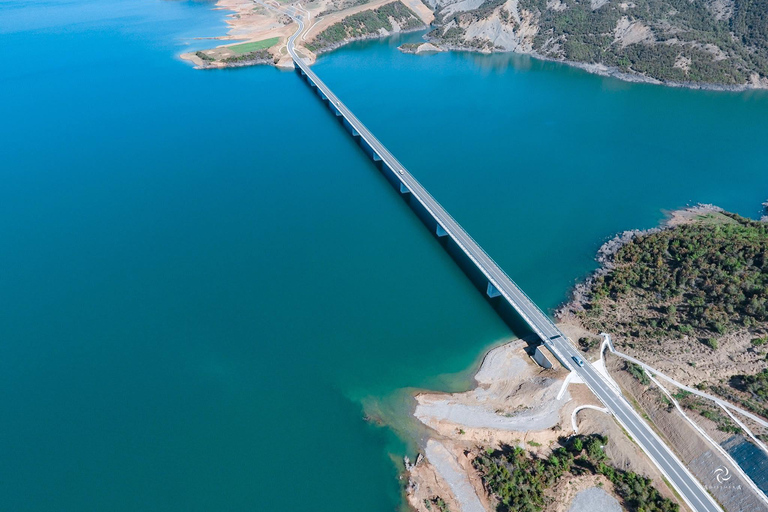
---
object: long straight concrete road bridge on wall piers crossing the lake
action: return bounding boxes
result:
[292,57,596,377]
